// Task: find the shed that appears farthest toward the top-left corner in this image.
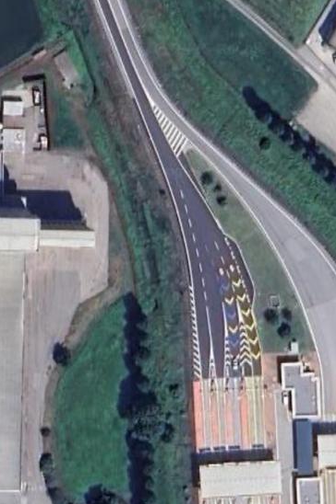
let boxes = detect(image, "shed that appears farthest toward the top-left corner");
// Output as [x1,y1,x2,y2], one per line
[3,100,24,115]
